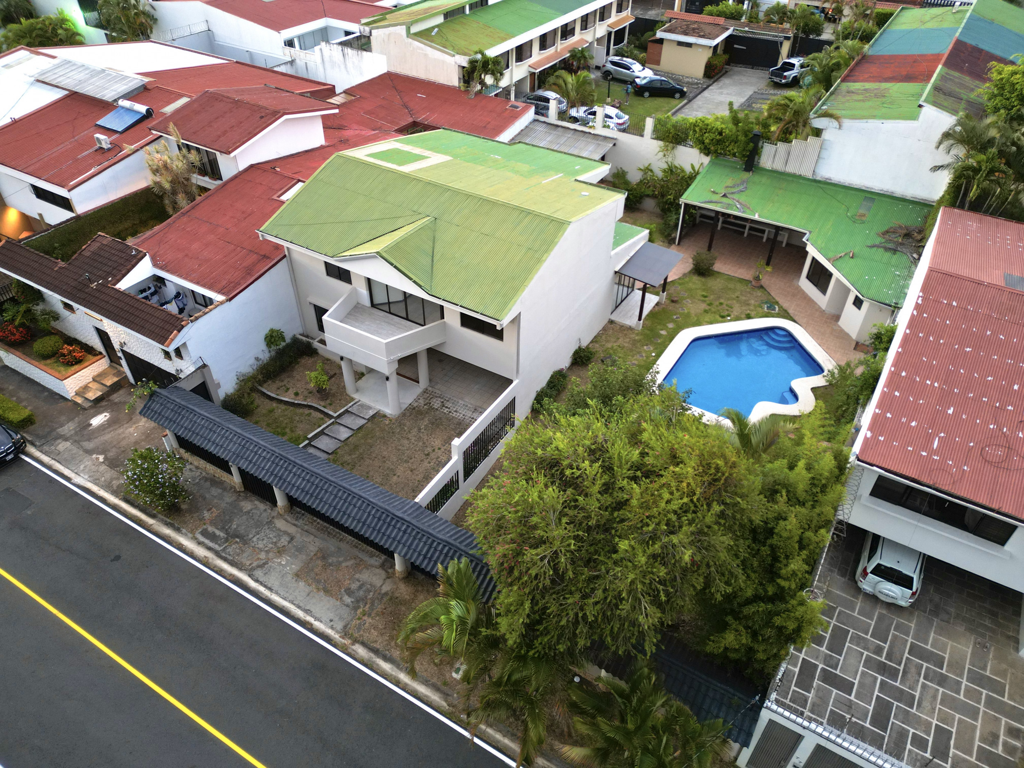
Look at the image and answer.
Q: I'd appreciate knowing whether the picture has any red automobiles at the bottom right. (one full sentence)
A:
No, at the bottom right there is no red automobile.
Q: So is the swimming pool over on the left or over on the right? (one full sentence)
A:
The swimming pool appears in the right half of the scene.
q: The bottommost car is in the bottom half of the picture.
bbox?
[861,534,935,614]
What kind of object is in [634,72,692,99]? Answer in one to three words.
car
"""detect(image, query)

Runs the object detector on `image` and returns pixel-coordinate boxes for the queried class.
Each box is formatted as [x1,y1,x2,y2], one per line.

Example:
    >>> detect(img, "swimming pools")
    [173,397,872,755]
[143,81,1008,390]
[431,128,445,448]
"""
[646,317,839,429]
